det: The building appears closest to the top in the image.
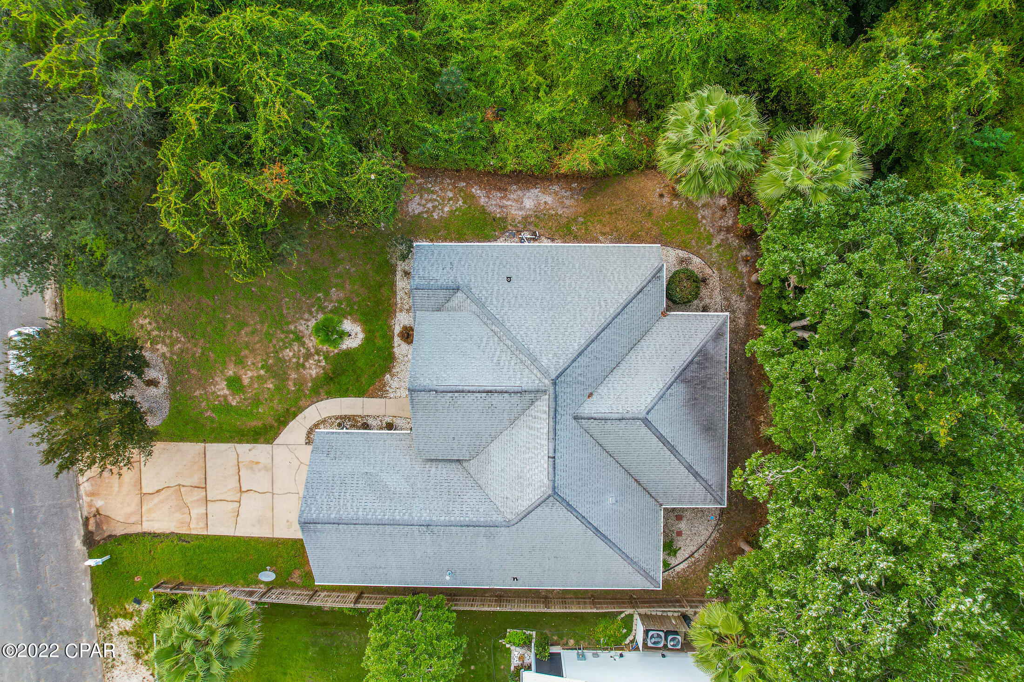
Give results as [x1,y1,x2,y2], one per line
[298,242,731,589]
